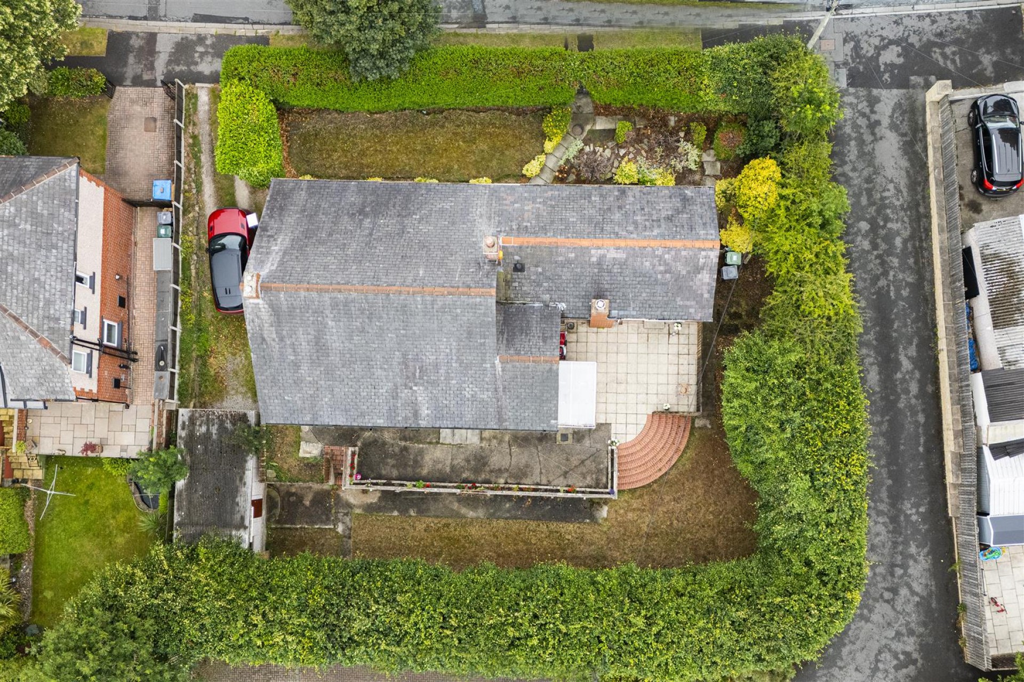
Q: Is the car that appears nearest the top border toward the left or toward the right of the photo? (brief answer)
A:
right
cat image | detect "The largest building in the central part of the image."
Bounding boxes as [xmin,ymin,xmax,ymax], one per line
[240,178,720,433]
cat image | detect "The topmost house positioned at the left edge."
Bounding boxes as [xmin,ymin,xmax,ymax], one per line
[0,155,136,408]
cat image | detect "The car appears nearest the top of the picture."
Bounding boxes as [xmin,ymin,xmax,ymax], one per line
[967,95,1024,199]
